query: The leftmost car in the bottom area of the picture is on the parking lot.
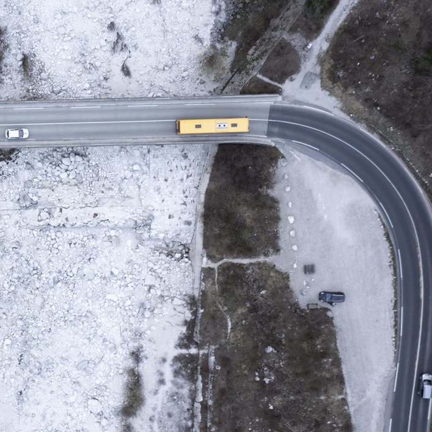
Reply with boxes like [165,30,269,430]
[316,291,345,306]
